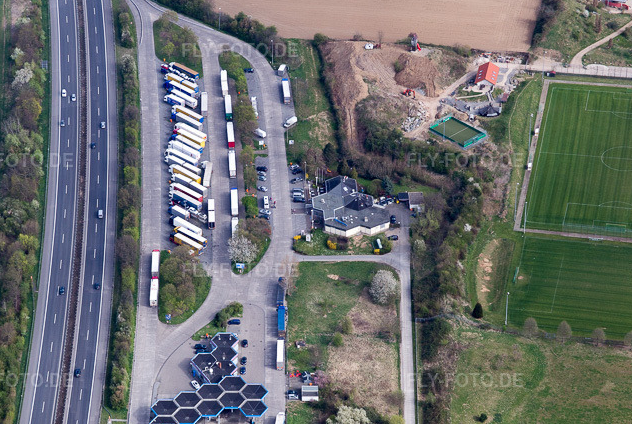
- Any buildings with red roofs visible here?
Yes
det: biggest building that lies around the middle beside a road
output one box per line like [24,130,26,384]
[312,176,389,237]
